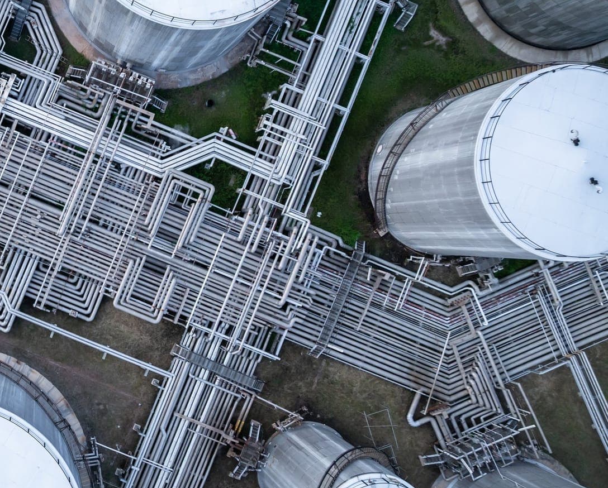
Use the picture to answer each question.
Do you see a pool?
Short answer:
No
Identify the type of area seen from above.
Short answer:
industrial area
